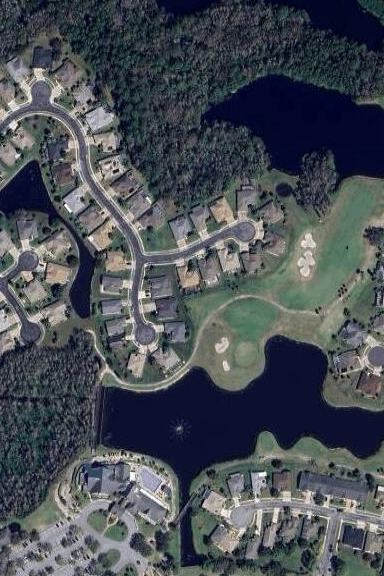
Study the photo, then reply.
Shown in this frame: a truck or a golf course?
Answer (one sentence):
There is a golf course in the scene.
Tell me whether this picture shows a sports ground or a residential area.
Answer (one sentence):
The picture captures a residential area.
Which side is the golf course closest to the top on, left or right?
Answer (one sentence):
You can find the golf course closest to the top on the right side of the picture.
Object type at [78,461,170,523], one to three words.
building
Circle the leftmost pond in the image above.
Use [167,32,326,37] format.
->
[0,160,94,318]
